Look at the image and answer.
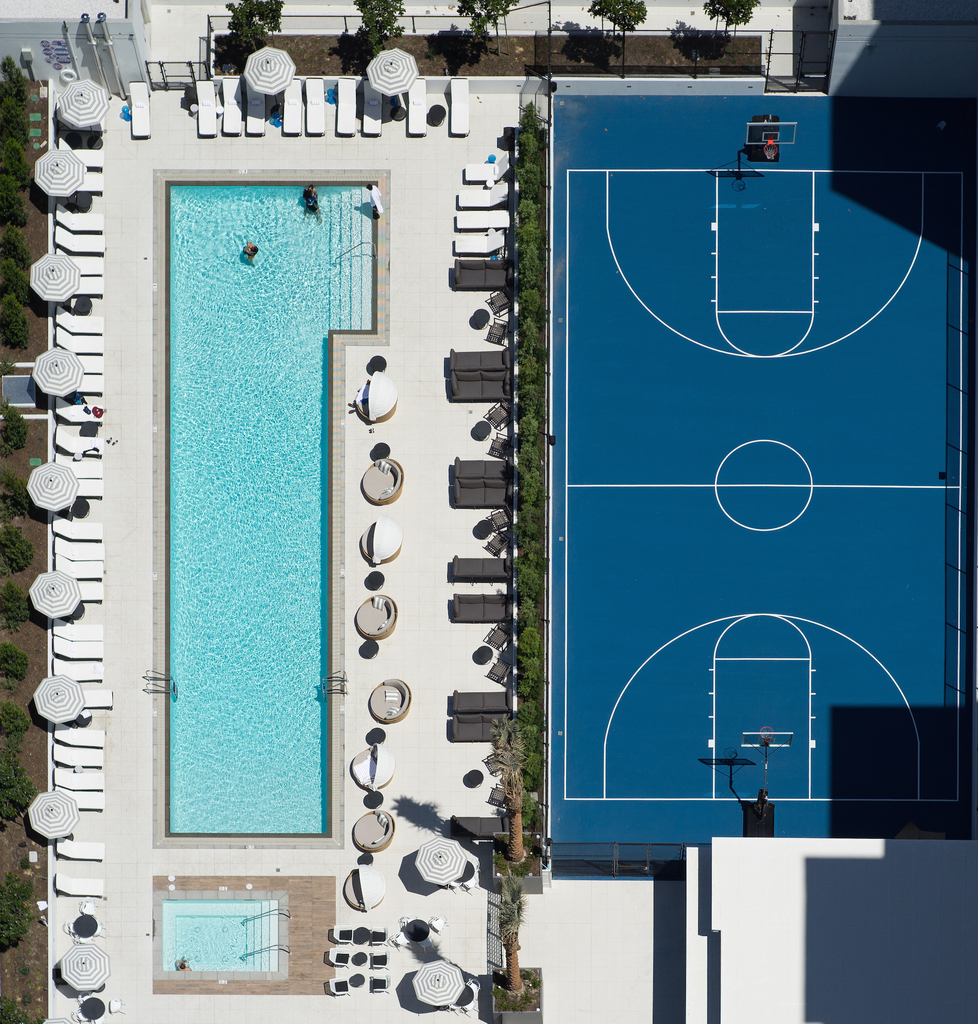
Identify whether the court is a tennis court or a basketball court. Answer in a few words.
basketball court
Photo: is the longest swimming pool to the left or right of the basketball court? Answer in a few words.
to its left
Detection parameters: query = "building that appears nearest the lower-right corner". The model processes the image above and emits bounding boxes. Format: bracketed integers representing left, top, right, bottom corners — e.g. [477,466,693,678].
[683,837,978,1024]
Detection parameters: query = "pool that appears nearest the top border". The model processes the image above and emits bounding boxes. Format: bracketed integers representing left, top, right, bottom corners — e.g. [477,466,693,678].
[153,169,390,849]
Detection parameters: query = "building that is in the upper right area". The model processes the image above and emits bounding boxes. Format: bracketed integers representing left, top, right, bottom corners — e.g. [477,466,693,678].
[828,0,978,96]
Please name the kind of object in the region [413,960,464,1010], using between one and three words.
umbrella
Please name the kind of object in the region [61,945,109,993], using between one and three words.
umbrella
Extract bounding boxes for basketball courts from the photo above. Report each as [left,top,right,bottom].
[553,95,972,880]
